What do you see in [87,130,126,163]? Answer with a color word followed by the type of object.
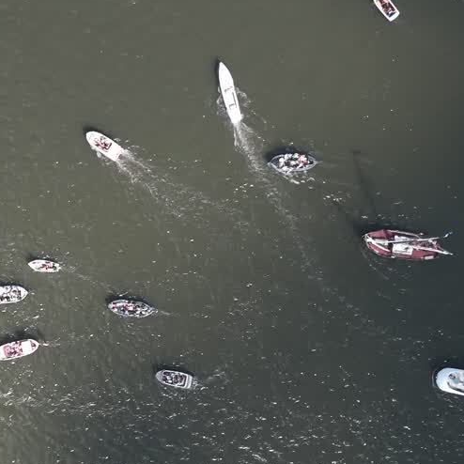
white boat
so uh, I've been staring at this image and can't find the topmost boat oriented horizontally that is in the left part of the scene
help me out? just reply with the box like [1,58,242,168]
[27,260,65,273]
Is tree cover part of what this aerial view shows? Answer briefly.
No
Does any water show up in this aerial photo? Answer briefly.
Yes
